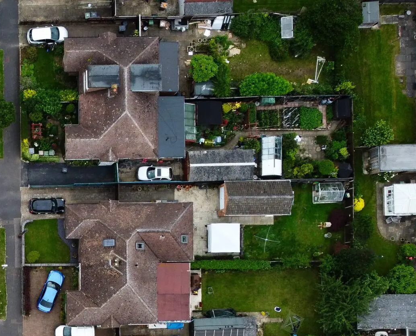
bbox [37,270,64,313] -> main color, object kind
blue car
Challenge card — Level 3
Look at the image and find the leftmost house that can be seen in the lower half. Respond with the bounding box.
[65,199,194,328]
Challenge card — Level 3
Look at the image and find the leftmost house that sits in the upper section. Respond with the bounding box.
[63,32,196,163]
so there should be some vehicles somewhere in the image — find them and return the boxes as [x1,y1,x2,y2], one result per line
[37,270,64,313]
[29,196,66,215]
[28,24,67,52]
[55,325,96,336]
[137,164,173,183]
